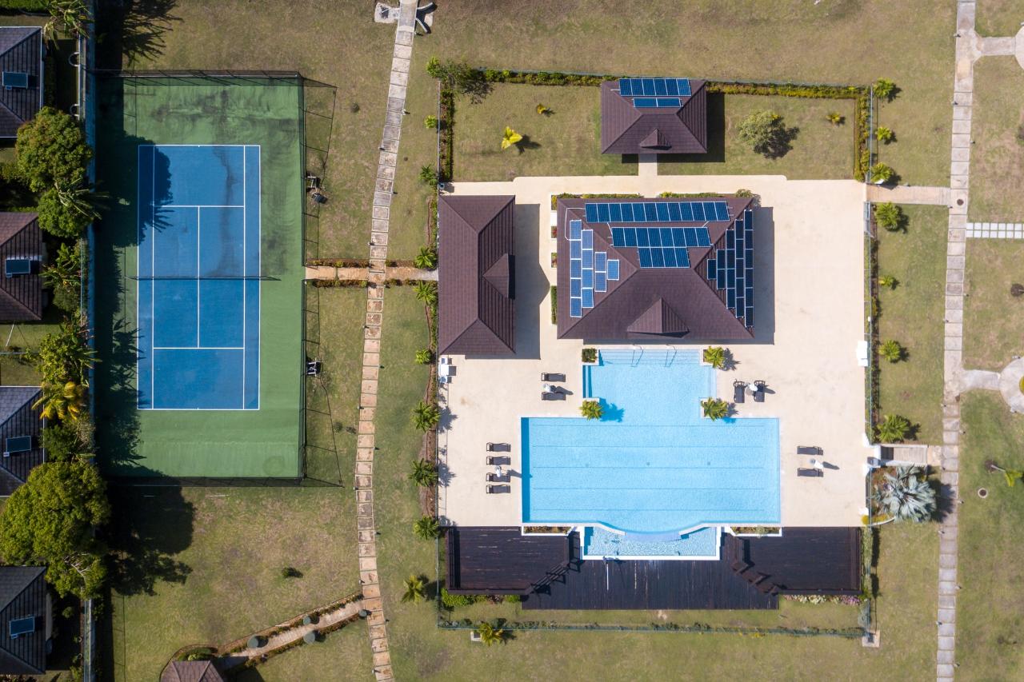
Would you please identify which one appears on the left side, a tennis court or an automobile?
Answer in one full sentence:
What appears on the left side is a tennis court.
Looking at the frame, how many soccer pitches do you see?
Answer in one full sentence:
There are no soccer pitches in the image.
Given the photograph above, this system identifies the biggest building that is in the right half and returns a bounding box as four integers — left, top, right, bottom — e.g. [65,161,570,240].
[557,197,755,339]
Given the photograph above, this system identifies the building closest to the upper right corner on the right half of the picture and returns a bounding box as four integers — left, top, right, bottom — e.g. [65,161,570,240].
[601,78,707,154]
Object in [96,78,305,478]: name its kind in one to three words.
tennis court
